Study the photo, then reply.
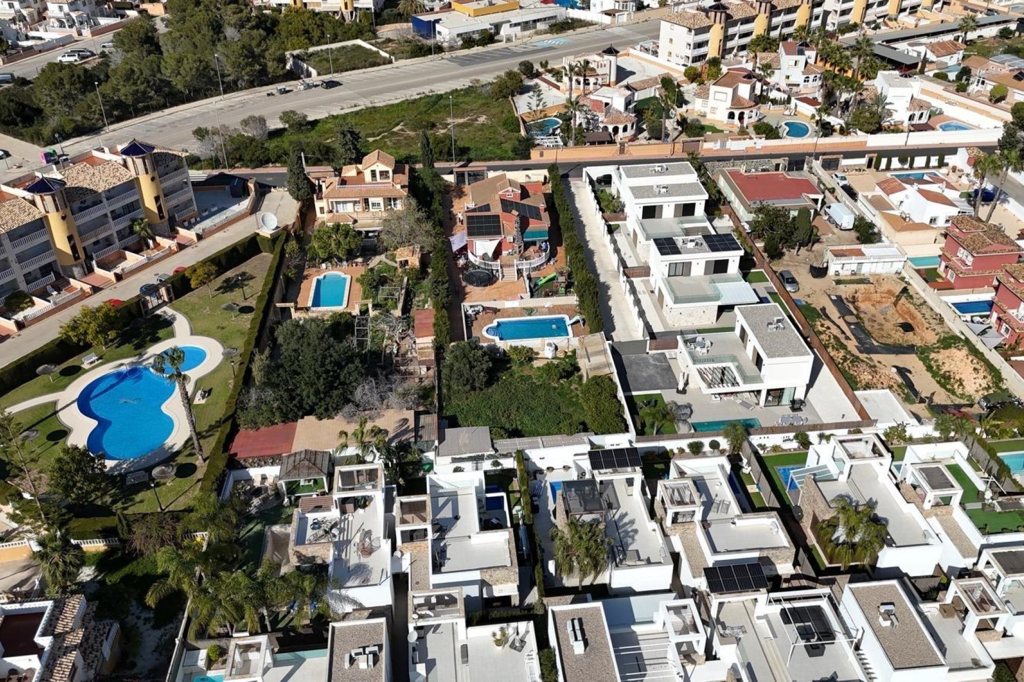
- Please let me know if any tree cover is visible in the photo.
Yes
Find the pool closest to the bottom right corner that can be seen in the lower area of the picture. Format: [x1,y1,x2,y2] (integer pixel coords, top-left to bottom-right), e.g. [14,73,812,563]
[999,449,1024,473]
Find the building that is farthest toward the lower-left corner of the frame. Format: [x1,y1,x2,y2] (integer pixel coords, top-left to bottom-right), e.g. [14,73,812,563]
[0,601,117,682]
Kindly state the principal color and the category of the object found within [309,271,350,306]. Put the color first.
blue swimming pool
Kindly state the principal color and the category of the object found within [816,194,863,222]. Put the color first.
white van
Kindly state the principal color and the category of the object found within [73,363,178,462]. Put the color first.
blue swimming pool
